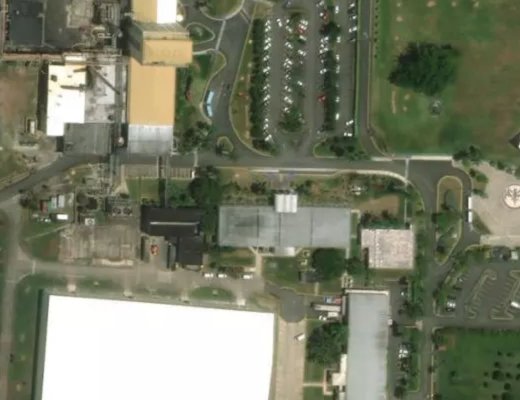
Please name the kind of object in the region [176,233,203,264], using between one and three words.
building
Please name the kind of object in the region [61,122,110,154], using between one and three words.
building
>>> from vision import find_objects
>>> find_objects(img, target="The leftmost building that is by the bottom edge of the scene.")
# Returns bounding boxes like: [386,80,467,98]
[32,289,276,400]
